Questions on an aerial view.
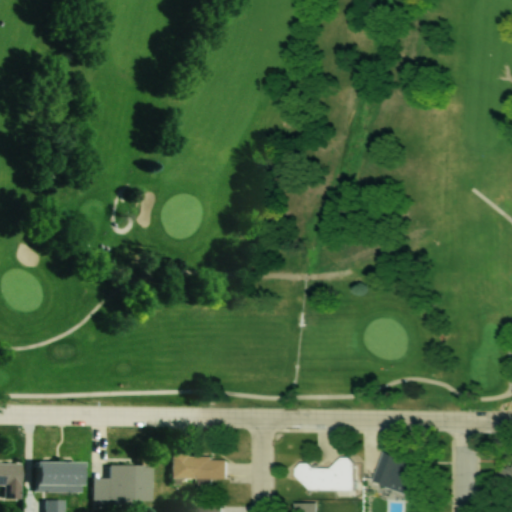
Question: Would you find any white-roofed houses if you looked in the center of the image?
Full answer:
No, I can find no white-roofed house in the center of the image.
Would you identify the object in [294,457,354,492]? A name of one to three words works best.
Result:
house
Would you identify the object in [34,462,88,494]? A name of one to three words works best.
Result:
house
